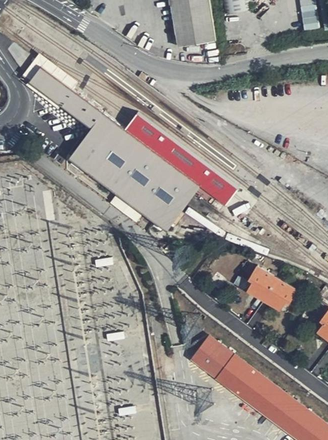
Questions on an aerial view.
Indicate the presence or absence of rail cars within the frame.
Yes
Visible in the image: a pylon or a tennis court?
pylon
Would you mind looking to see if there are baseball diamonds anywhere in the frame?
No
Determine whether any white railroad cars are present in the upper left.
No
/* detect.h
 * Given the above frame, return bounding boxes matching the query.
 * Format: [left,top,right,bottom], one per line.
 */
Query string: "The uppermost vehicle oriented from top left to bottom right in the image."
[138,70,156,84]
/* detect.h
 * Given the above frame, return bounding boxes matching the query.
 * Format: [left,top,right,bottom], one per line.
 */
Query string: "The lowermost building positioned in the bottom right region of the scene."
[192,332,328,440]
